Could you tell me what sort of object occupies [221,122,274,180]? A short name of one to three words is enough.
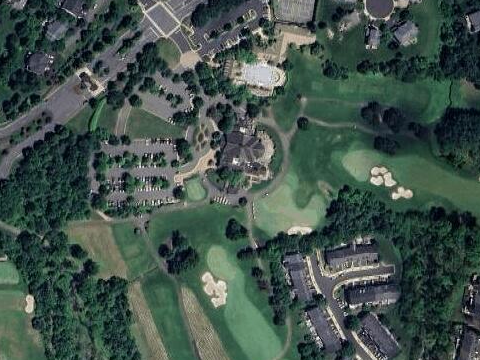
building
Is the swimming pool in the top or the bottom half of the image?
top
